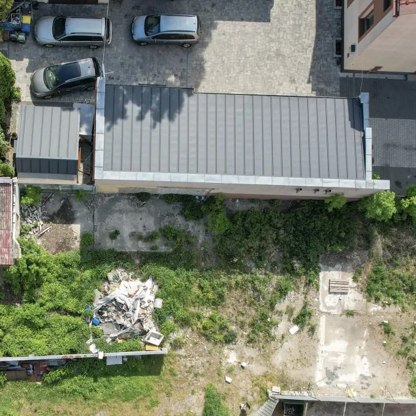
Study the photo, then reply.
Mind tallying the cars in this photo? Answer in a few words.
2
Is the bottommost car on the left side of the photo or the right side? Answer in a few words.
left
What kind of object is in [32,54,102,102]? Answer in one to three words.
car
